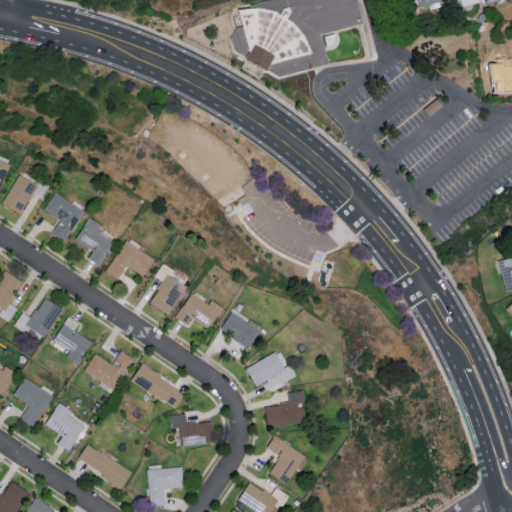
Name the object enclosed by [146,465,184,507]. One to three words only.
house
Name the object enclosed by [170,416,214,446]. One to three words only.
house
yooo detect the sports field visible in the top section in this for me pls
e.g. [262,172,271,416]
[148,112,252,207]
